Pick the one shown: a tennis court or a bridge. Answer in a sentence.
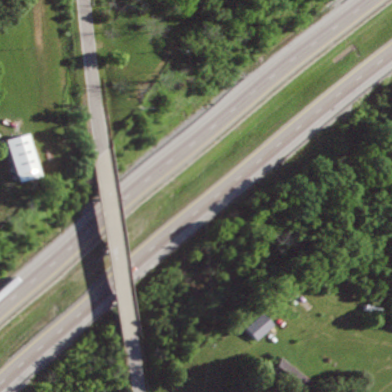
Visible in the photo is a bridge.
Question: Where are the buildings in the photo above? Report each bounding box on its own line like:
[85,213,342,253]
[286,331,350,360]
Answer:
[248,314,274,340]
[8,132,43,183]
[278,358,308,383]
